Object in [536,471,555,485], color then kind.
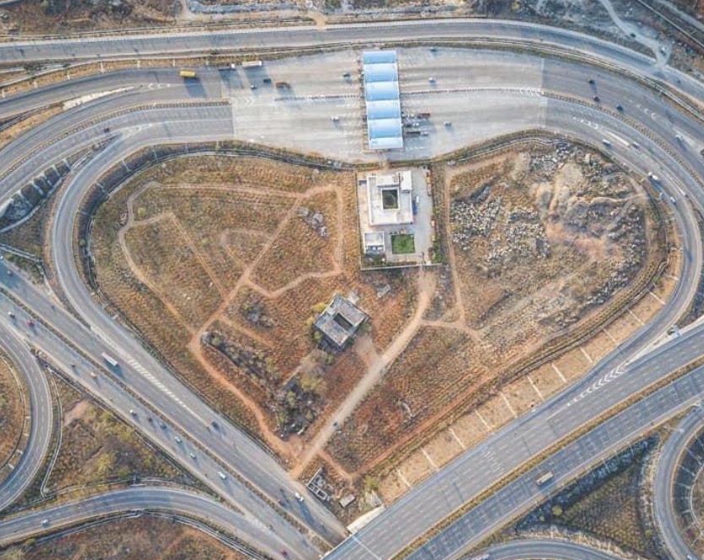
white vehicle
